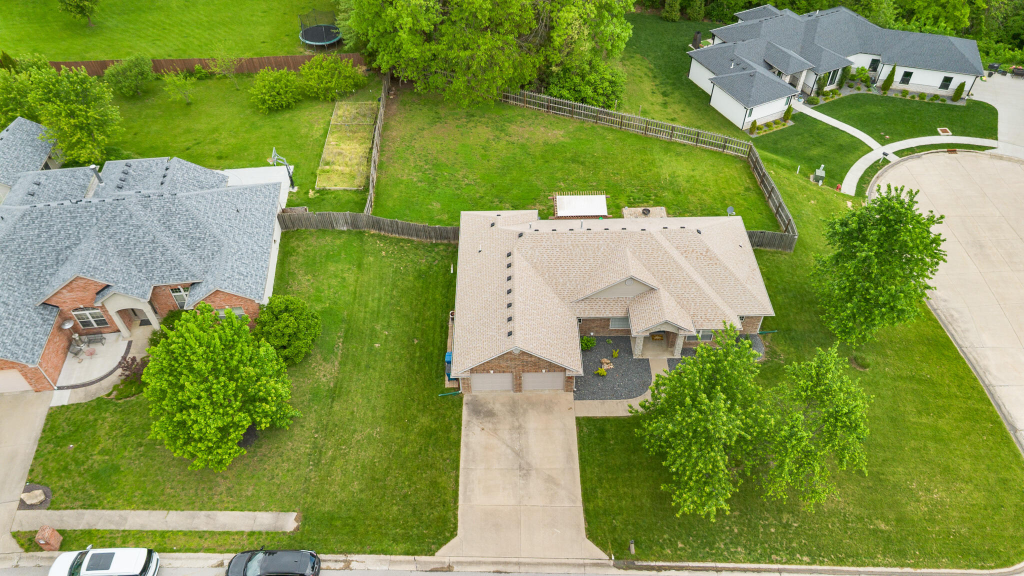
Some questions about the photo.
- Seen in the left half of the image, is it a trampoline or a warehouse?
trampoline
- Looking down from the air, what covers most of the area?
grass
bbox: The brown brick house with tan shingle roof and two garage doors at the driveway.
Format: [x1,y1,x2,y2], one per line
[448,209,777,397]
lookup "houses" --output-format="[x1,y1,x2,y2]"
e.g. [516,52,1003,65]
[448,209,777,397]
[0,117,284,396]
[686,4,986,130]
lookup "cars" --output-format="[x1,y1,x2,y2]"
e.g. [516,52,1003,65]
[52,545,161,576]
[226,546,322,576]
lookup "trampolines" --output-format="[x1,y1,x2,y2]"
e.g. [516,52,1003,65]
[293,12,342,53]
